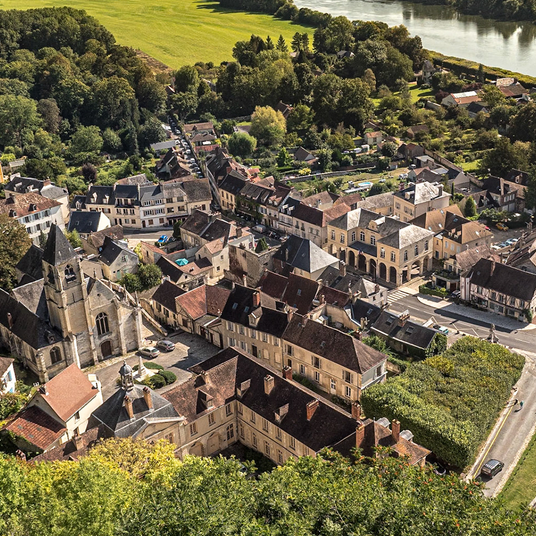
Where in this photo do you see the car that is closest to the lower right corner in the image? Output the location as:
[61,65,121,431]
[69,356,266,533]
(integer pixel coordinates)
[480,456,504,479]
